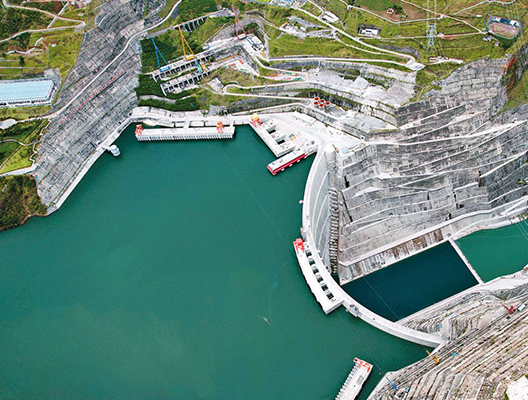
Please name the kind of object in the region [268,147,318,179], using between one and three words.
pier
